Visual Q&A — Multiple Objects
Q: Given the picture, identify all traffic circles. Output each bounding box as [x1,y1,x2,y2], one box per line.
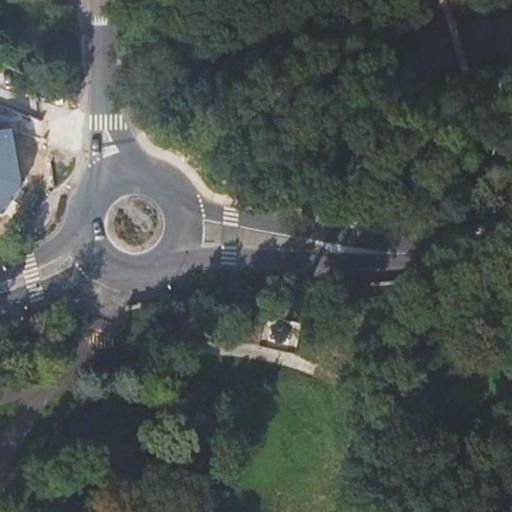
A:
[60,134,223,298]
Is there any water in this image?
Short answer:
No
